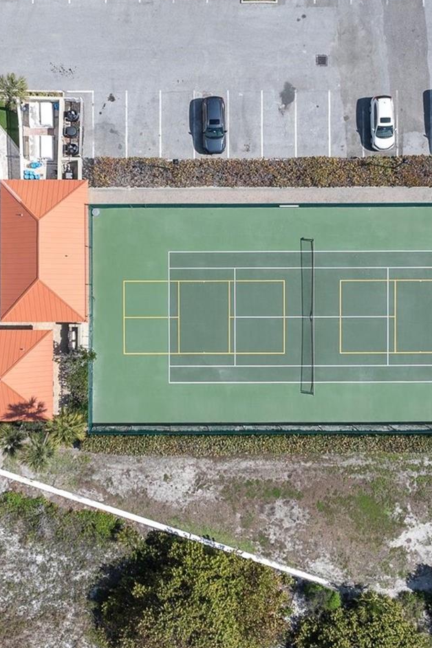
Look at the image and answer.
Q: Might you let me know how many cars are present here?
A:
two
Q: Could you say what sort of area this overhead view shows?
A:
sports ground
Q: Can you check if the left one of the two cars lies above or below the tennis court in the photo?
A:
above it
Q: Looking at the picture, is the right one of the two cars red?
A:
No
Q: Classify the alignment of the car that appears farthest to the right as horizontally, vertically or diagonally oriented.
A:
vertically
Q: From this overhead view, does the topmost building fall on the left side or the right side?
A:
left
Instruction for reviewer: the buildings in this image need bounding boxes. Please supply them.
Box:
[0,179,88,322]
[0,329,57,421]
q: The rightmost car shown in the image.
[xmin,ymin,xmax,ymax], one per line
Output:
[369,96,398,153]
